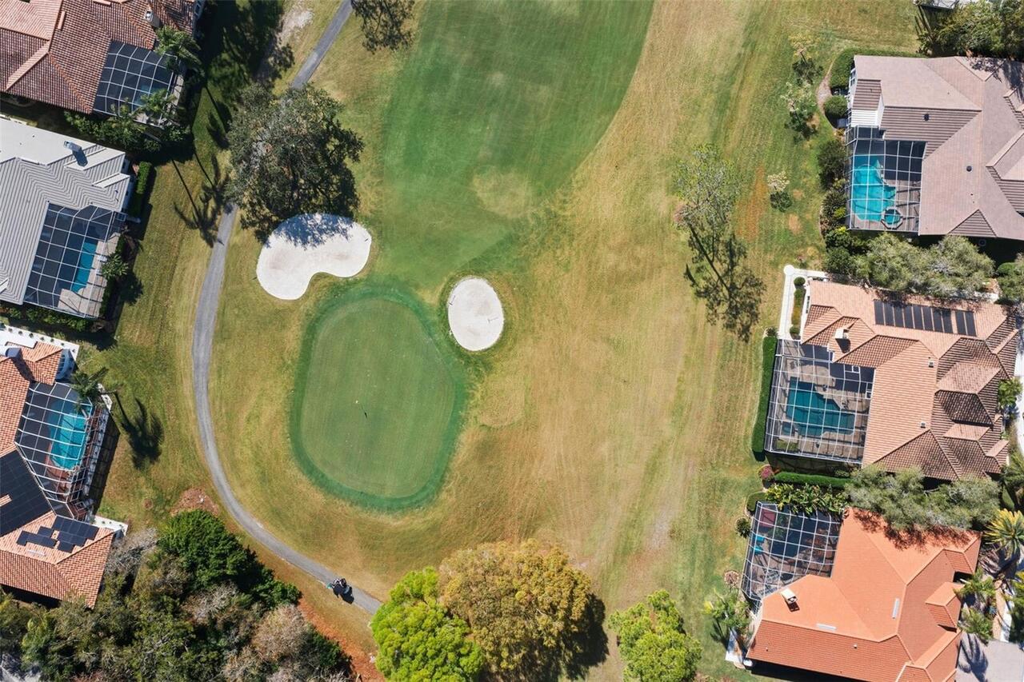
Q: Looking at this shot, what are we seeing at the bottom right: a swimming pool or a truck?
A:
swimming pool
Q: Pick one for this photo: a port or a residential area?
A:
residential area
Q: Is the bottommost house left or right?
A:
right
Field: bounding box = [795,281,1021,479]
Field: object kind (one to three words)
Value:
house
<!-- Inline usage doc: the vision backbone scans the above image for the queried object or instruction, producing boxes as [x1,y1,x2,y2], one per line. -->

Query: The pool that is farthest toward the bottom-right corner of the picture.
[771,511,819,558]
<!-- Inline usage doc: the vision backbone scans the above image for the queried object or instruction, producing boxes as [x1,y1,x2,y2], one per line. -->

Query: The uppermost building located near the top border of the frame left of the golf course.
[0,0,214,115]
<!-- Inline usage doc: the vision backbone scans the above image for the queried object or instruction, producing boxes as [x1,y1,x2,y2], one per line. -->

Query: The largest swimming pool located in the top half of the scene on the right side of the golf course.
[851,153,900,224]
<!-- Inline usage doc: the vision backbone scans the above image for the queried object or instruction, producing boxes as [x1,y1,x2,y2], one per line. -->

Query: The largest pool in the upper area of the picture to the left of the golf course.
[52,234,101,293]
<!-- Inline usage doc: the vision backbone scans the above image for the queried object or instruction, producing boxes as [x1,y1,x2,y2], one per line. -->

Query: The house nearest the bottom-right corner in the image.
[742,508,981,682]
